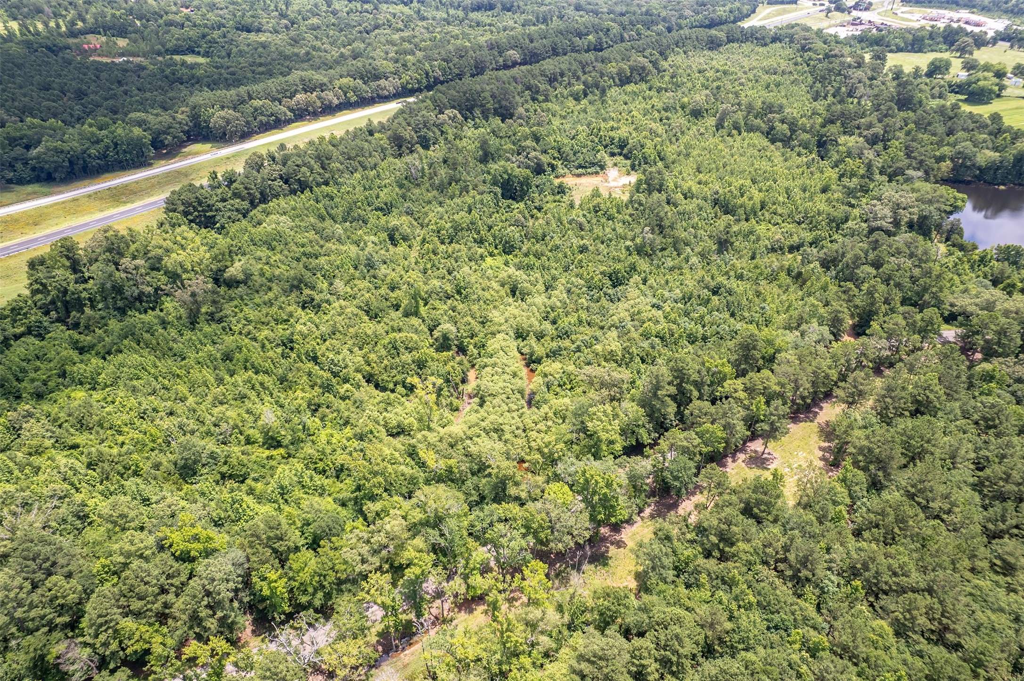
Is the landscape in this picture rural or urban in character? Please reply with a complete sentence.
It looks rural.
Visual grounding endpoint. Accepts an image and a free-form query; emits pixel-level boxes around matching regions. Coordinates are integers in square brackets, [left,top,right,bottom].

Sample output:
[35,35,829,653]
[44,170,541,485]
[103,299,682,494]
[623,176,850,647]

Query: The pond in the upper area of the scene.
[920,185,1024,266]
